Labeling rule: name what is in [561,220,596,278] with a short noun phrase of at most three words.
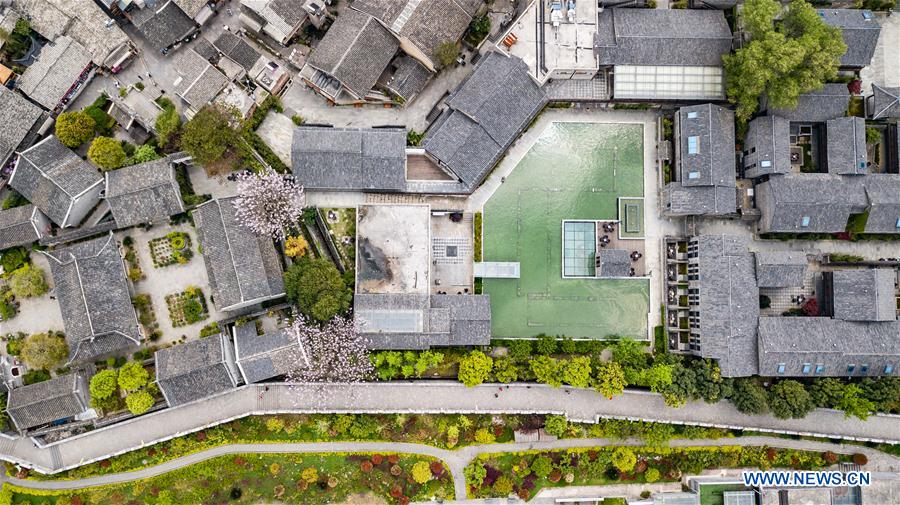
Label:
building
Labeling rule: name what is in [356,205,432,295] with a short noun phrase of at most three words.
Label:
building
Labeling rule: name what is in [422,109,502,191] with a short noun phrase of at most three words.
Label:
house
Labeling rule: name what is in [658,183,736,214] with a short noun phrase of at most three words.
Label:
house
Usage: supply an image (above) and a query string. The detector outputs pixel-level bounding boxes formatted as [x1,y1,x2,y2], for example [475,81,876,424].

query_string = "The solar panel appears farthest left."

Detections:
[263,54,282,74]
